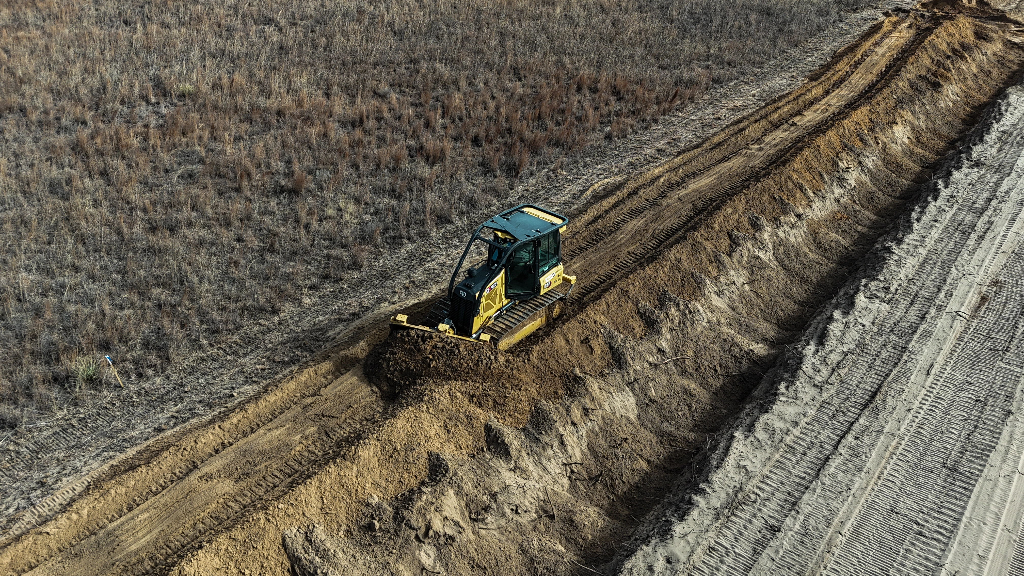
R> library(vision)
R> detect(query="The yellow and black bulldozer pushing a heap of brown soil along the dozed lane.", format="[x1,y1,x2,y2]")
[389,201,580,353]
